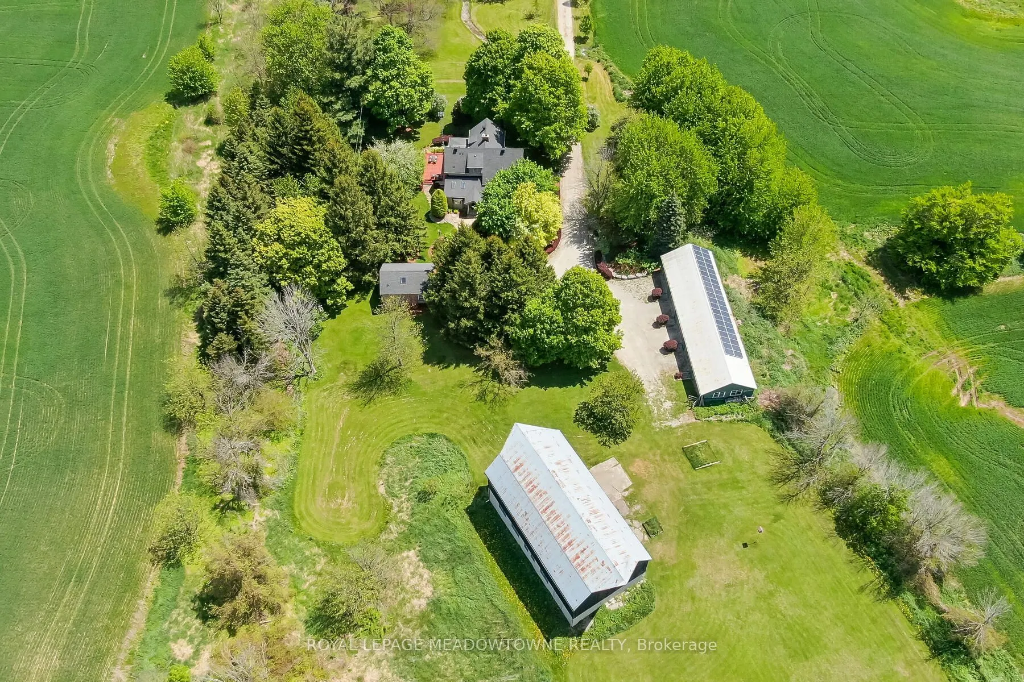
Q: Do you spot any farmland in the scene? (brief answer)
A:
Yes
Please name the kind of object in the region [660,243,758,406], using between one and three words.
shed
